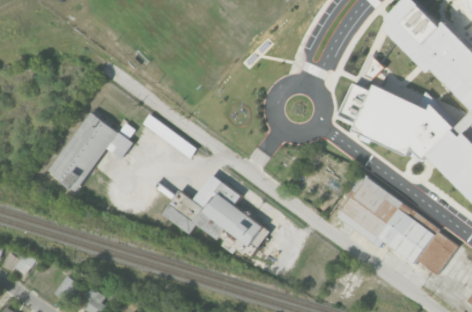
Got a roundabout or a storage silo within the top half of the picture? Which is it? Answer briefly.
roundabout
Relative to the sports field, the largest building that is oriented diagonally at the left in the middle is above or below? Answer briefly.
below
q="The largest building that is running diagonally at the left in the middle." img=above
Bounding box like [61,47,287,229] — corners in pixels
[50,114,119,190]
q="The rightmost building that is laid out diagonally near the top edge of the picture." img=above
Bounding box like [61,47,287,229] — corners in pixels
[384,0,472,113]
